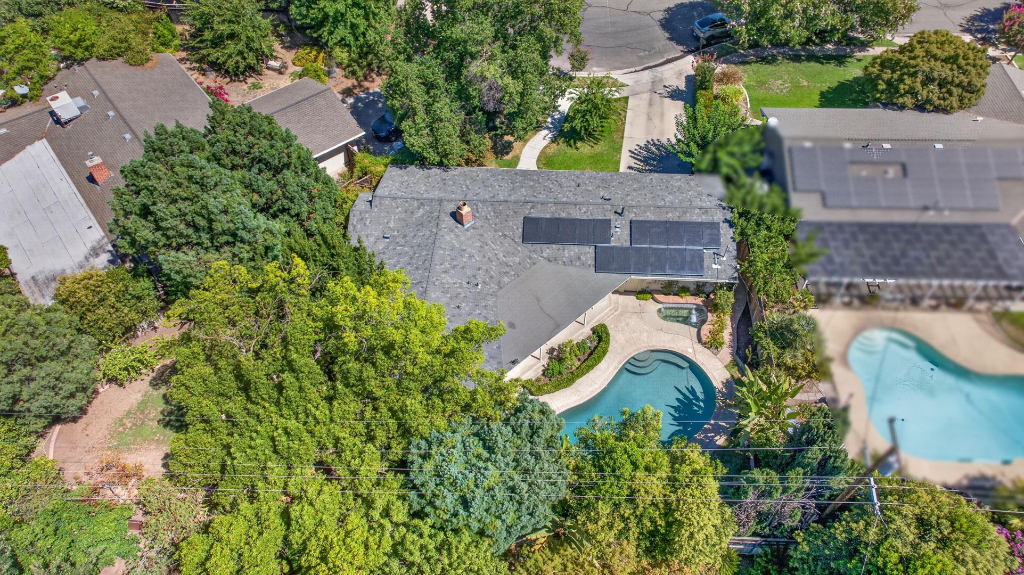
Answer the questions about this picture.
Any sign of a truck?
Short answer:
No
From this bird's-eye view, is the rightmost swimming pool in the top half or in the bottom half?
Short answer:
bottom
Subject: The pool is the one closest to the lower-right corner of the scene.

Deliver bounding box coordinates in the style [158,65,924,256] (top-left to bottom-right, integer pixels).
[841,323,1024,467]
